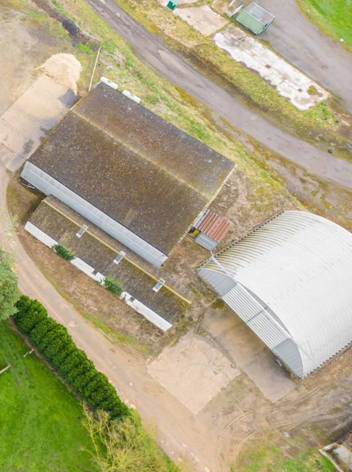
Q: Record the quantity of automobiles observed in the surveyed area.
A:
none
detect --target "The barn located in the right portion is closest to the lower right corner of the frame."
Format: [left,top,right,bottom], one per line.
[197,210,352,379]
